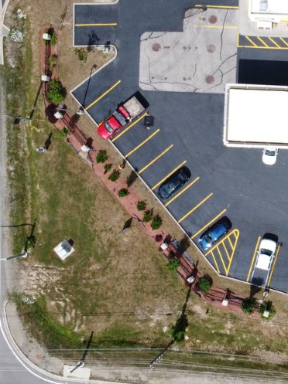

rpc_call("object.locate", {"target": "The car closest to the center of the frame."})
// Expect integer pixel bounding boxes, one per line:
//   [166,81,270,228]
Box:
[158,165,192,200]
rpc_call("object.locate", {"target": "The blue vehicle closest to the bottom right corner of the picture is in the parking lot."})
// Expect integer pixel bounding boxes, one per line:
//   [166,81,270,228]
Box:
[198,219,231,251]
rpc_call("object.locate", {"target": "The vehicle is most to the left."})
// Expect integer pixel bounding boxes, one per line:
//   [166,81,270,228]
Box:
[98,97,146,141]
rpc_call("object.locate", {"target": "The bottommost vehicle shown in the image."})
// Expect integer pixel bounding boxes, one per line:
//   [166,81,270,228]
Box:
[250,238,275,289]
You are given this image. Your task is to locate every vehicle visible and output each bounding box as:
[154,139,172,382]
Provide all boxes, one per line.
[198,219,231,251]
[263,147,280,165]
[98,97,146,141]
[250,238,275,289]
[158,165,192,200]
